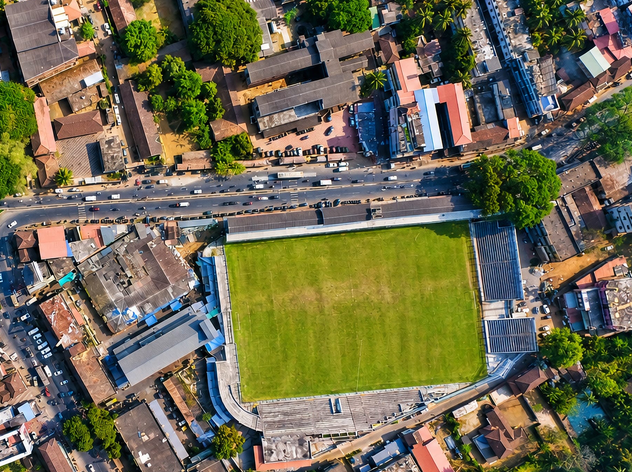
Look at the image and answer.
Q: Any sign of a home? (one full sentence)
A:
Yes, looking at the shot, I can spot a home.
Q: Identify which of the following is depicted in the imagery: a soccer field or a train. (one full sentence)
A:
Visible in the photo is a soccer field.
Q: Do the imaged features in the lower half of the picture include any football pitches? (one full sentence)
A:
Yes, in the lower half of the picture there is a football pitch.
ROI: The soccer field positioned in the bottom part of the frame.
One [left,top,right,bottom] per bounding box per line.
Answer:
[224,219,489,403]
